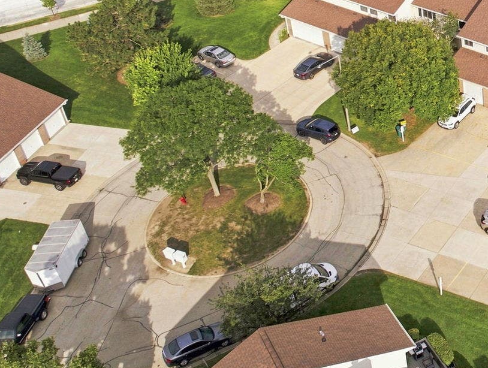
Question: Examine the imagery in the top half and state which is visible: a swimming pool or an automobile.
automobile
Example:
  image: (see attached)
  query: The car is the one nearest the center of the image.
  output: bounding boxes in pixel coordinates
[292,116,343,144]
